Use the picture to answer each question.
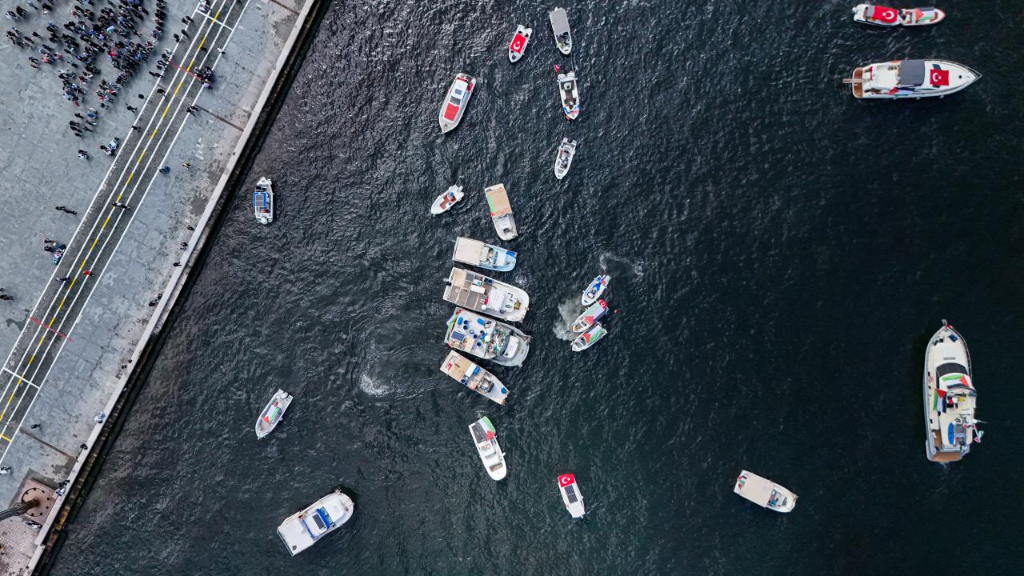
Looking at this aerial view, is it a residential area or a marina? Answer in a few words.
marina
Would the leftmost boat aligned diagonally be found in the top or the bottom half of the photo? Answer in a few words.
bottom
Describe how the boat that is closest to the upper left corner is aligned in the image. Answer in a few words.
from top to bottom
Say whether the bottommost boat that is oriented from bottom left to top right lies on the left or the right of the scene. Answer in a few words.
left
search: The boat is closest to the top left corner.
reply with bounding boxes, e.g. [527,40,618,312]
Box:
[254,176,275,224]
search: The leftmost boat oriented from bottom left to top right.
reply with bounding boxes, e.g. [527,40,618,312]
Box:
[255,388,294,439]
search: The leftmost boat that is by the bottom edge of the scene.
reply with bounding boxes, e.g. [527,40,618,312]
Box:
[277,489,355,553]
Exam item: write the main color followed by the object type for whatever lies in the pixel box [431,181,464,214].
white boat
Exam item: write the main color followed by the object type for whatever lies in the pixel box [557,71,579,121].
white boat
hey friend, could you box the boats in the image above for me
[254,176,275,224]
[583,276,608,305]
[556,138,577,179]
[733,470,798,510]
[431,181,464,214]
[550,6,572,55]
[851,5,903,27]
[573,301,608,331]
[571,321,606,350]
[557,71,579,121]
[468,418,505,481]
[277,489,355,553]
[484,183,516,241]
[255,388,294,439]
[922,319,986,461]
[440,350,509,405]
[443,268,530,319]
[441,73,477,135]
[453,237,517,270]
[559,472,585,518]
[508,25,533,62]
[901,8,946,26]
[447,308,532,367]
[843,56,982,100]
